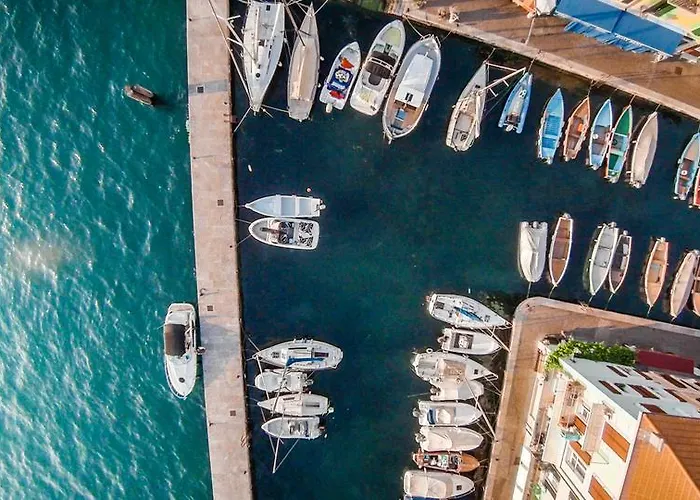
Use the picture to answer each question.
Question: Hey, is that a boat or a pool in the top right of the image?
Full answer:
Looking in the top right of the image, you will find a boat.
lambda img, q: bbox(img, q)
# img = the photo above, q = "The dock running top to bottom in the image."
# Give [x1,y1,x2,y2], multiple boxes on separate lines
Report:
[186,0,257,500]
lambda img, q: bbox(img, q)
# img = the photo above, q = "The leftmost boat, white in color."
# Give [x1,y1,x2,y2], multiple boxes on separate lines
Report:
[136,294,206,404]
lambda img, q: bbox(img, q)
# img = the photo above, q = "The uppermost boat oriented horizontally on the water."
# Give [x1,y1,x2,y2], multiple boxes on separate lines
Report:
[239,194,324,220]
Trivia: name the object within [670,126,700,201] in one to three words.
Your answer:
boat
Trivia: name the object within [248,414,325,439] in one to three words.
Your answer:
boat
